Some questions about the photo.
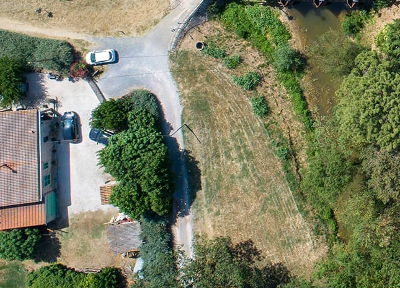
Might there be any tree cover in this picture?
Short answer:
Yes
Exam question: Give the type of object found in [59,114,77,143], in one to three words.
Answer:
car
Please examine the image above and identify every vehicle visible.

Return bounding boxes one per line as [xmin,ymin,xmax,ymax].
[59,114,77,143]
[85,49,115,64]
[87,130,117,149]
